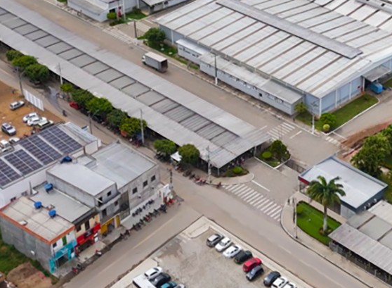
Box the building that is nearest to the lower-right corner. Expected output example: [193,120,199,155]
[298,153,391,219]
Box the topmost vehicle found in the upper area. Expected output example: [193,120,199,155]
[139,51,166,72]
